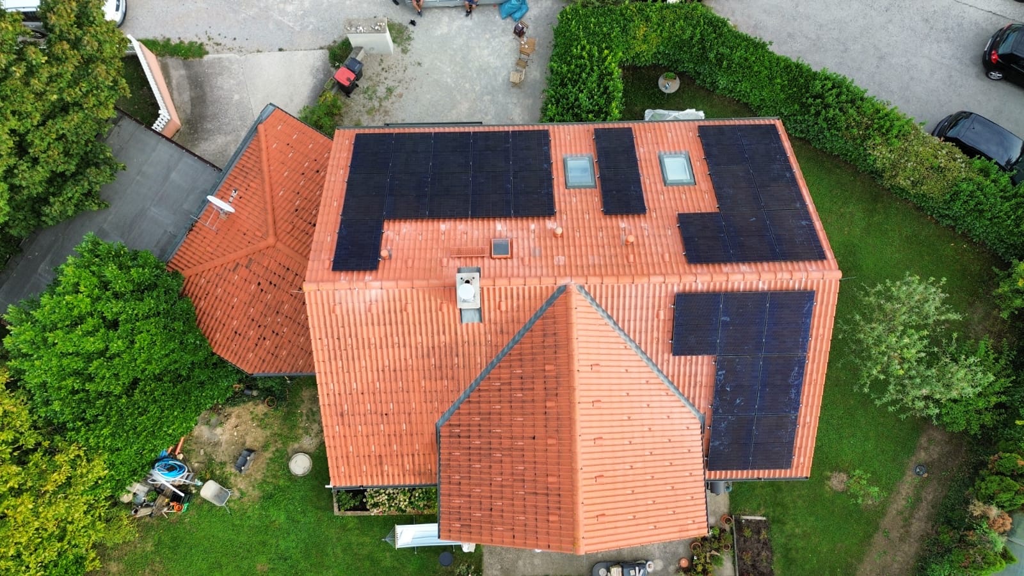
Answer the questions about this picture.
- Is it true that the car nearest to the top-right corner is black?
Yes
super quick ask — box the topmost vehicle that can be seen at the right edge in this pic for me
[980,22,1024,83]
